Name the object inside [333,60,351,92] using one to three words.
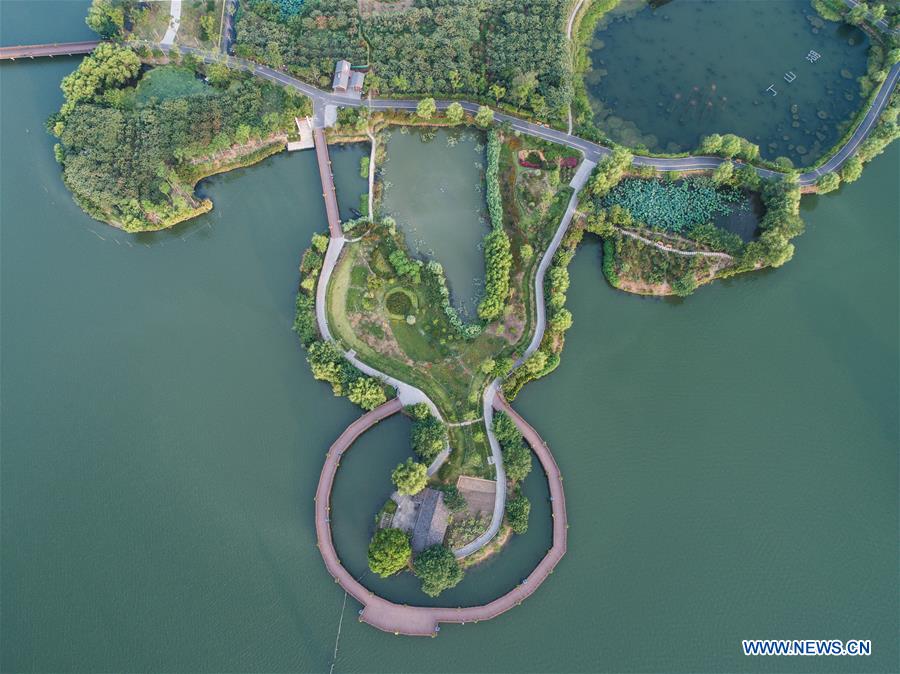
house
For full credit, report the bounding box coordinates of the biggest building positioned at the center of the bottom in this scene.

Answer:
[412,488,451,550]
